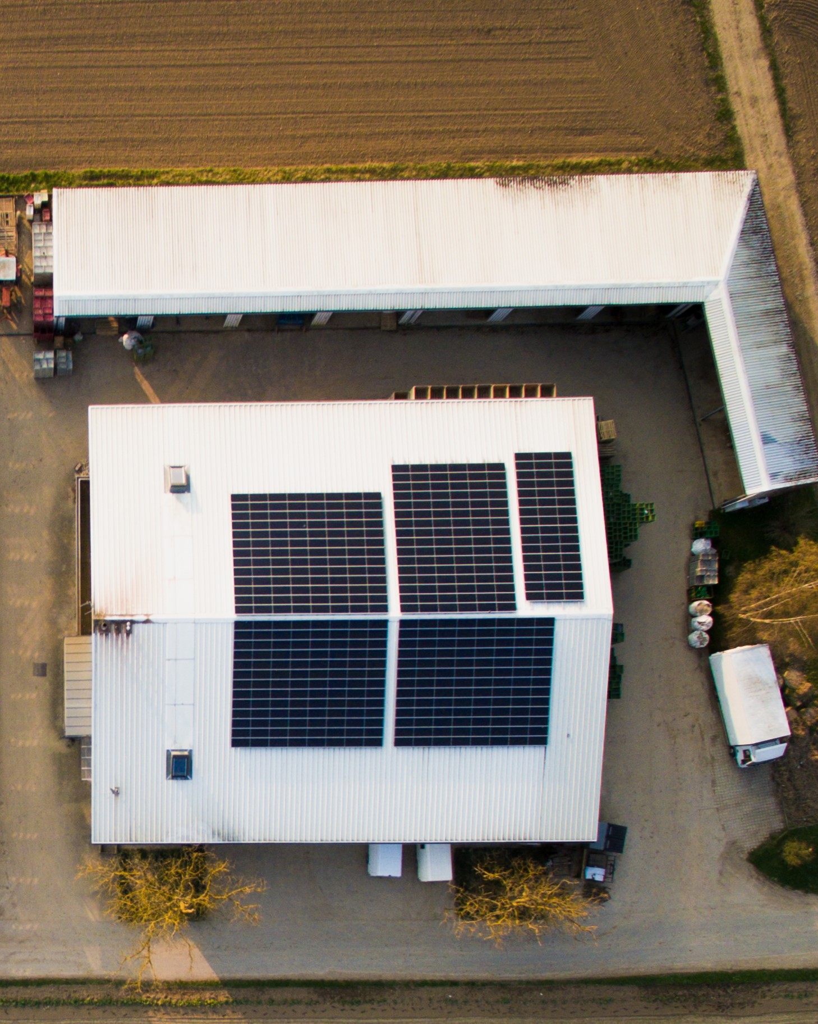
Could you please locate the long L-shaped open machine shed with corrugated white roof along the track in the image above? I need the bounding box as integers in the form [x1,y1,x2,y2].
[52,169,818,511]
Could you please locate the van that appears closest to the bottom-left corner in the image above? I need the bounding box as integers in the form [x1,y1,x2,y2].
[365,843,399,875]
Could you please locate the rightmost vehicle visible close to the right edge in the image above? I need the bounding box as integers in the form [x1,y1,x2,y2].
[707,645,785,770]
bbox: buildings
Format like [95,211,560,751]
[88,395,614,844]
[52,169,818,511]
